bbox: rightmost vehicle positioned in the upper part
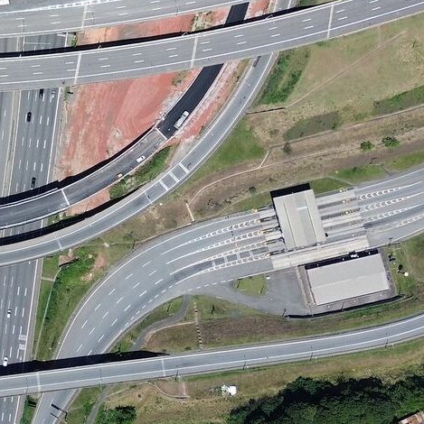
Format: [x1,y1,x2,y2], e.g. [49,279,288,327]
[174,110,189,128]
